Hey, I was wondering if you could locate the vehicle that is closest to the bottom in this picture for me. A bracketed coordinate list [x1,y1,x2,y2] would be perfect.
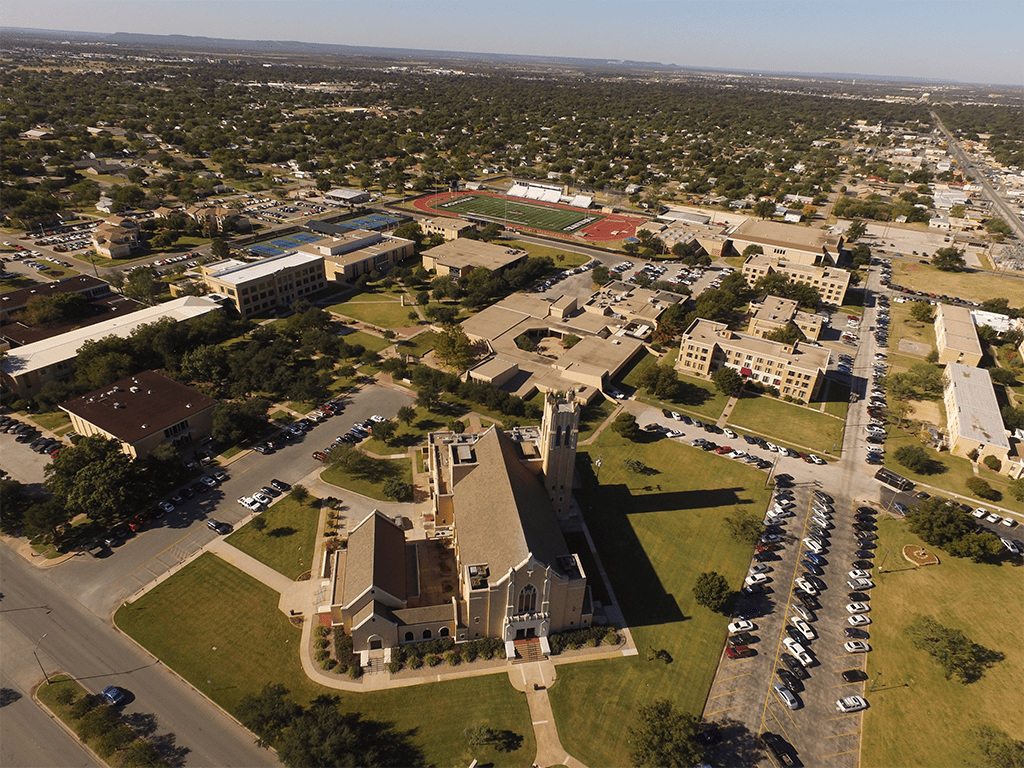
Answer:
[763,729,796,768]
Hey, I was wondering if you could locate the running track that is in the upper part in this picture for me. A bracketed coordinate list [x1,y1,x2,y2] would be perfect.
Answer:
[419,192,645,240]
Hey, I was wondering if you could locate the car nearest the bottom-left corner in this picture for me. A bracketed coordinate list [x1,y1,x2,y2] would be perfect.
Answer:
[101,683,128,706]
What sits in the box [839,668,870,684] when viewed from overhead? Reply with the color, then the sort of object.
black car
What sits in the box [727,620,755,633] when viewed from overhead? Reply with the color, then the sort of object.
white vehicle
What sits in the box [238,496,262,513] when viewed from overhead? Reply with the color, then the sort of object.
white vehicle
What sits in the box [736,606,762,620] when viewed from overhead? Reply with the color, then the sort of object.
black car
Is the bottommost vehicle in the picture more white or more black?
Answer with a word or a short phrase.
black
